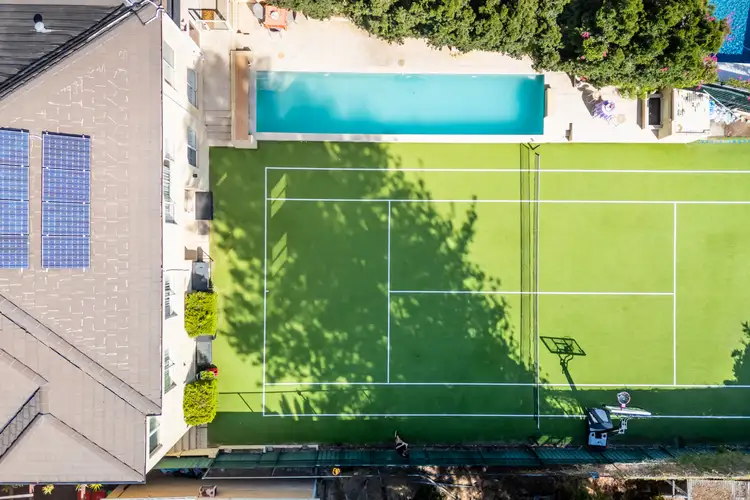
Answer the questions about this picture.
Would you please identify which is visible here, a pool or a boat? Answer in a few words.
pool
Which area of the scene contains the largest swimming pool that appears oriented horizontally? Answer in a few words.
top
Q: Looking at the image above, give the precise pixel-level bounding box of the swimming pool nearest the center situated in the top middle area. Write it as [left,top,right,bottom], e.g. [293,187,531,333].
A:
[250,72,544,139]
